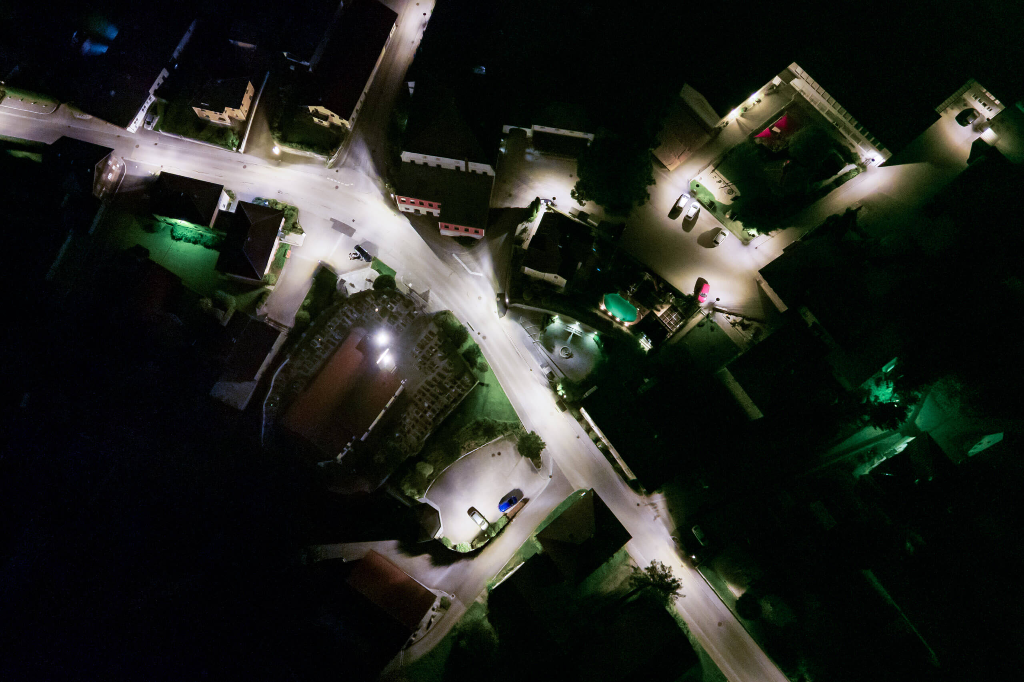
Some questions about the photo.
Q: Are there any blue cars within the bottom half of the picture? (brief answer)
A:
Yes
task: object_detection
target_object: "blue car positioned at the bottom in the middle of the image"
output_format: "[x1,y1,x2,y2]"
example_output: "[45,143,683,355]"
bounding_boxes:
[496,494,519,514]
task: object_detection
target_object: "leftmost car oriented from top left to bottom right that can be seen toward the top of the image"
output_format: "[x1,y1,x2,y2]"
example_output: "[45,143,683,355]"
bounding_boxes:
[354,243,373,263]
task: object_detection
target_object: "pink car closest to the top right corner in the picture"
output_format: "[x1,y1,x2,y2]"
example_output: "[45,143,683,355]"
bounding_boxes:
[697,282,711,304]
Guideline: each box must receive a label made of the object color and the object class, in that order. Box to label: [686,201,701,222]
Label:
white vehicle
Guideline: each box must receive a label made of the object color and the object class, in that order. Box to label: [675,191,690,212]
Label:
white vehicle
